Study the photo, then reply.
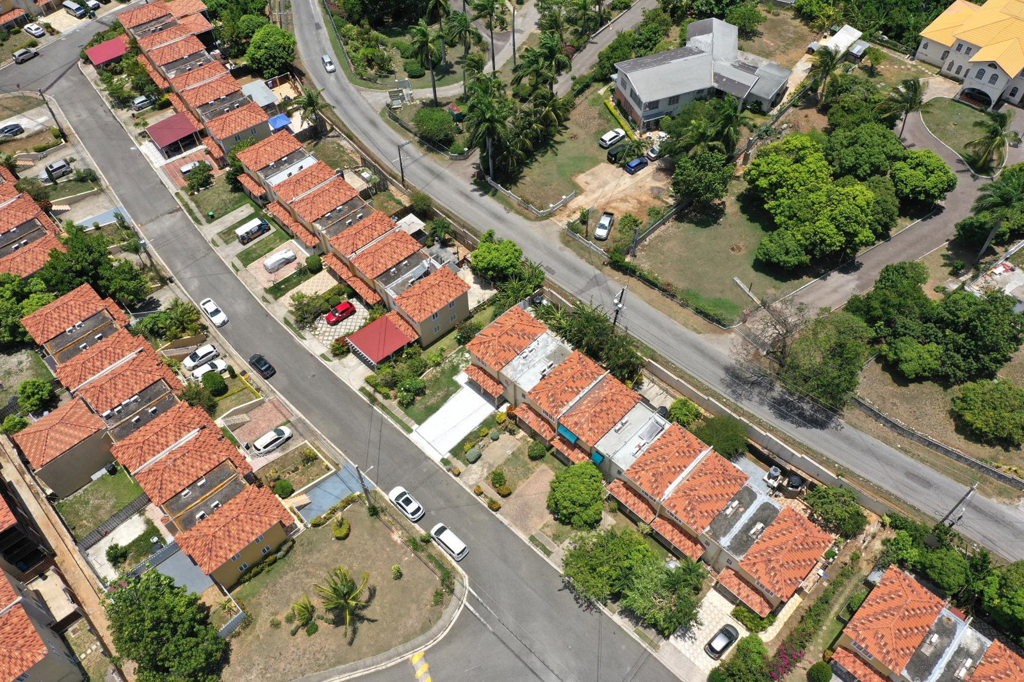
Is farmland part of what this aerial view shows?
No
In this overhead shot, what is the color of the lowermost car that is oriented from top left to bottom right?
white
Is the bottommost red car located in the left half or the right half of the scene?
left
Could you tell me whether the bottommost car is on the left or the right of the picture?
right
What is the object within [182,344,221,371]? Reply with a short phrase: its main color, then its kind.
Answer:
white car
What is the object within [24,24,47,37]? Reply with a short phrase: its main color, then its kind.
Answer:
white vehicle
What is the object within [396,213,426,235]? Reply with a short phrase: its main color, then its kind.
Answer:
white gazebo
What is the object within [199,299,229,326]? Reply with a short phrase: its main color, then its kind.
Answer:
white car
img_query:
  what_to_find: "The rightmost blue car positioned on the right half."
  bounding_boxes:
[623,158,649,175]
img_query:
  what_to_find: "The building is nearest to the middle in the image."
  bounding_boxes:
[463,306,559,407]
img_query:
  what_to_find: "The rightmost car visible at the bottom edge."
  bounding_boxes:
[702,624,740,664]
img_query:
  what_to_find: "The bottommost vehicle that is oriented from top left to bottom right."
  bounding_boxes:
[431,524,471,563]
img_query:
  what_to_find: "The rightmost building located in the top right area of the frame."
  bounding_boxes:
[916,2,1024,112]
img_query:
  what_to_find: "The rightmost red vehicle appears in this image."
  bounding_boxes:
[325,300,358,324]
